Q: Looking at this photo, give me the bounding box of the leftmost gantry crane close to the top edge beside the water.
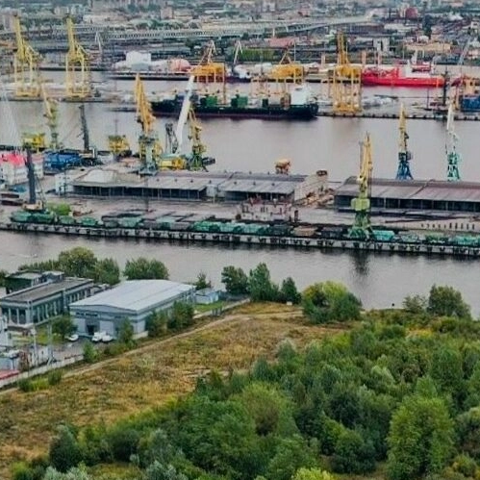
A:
[9,18,44,99]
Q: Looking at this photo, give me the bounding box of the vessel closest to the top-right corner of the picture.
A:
[361,47,454,86]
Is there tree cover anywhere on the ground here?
Yes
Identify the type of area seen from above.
port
